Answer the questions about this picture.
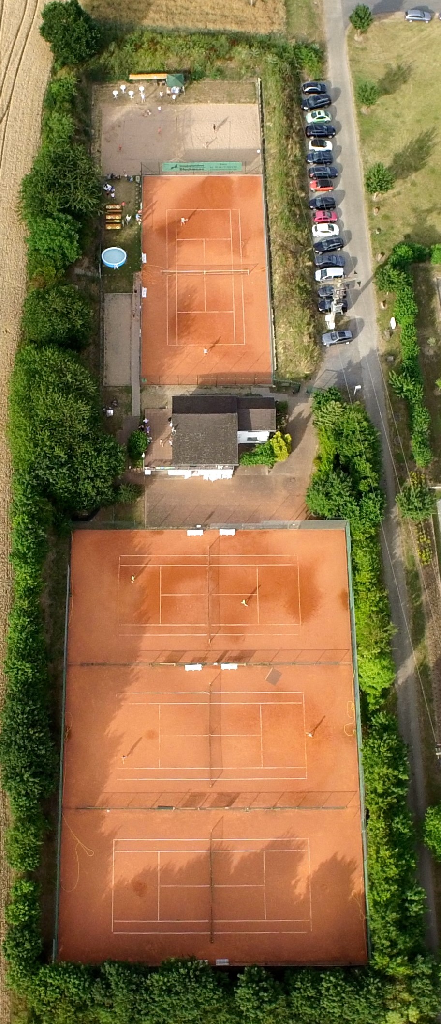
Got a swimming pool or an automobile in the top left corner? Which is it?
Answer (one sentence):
The feature located in the top left corner is a swimming pool.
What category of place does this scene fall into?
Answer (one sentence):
The picture captures a sports ground.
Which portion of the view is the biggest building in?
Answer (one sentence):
The biggest building is in the center part of the image.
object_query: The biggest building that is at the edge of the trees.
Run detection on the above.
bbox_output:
[145,395,278,480]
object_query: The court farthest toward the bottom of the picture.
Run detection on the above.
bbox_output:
[55,808,373,967]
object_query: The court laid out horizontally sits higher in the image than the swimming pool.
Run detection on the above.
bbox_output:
[101,102,263,174]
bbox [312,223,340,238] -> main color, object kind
white car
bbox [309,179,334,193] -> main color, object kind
red car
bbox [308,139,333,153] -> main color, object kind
white car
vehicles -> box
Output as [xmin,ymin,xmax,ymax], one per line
[306,123,336,139]
[309,197,337,211]
[302,82,327,95]
[308,165,338,181]
[315,254,345,269]
[315,267,345,283]
[312,223,340,238]
[306,151,333,166]
[302,93,333,112]
[306,111,332,125]
[314,210,338,225]
[308,139,333,153]
[321,331,354,347]
[314,237,345,255]
[405,9,432,24]
[309,179,334,193]
[317,285,347,300]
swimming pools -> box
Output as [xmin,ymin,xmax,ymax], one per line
[101,246,127,272]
